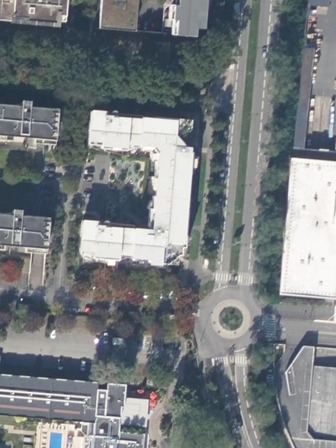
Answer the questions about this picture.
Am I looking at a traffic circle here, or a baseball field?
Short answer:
traffic circle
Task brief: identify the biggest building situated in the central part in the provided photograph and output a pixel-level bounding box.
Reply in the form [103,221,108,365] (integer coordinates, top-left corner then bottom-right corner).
[80,110,198,270]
